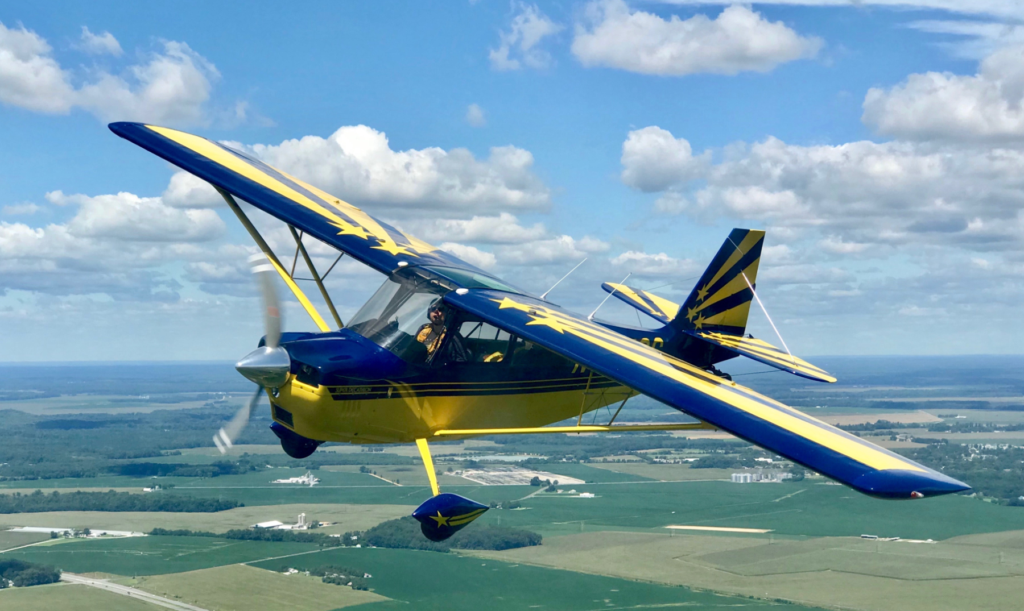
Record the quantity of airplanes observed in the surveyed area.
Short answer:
1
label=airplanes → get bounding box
[103,124,973,543]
